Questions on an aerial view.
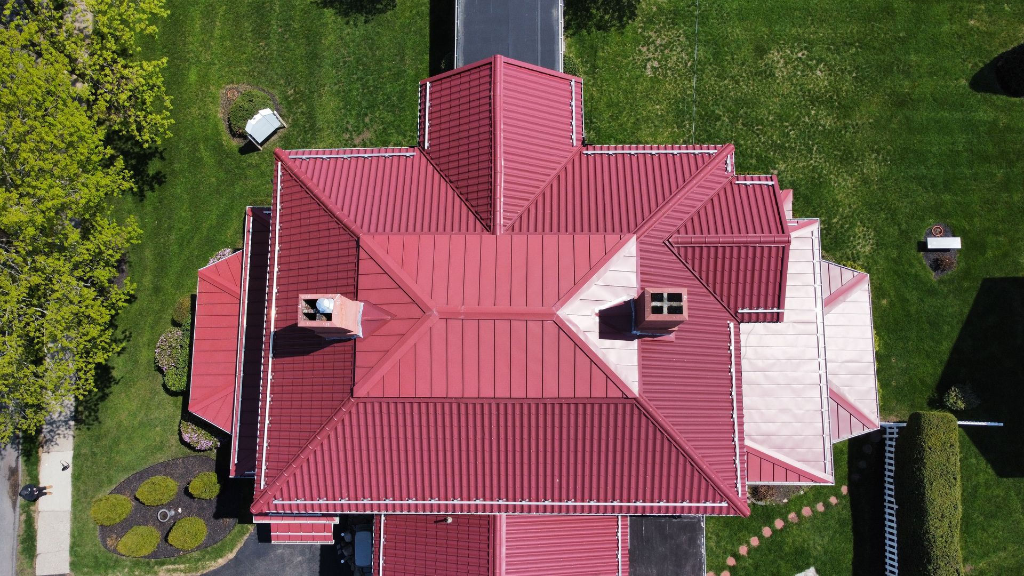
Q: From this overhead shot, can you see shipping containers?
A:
No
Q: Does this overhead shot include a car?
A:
No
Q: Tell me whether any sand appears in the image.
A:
No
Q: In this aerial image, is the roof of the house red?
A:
Yes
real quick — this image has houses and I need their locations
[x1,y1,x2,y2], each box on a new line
[186,0,880,576]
